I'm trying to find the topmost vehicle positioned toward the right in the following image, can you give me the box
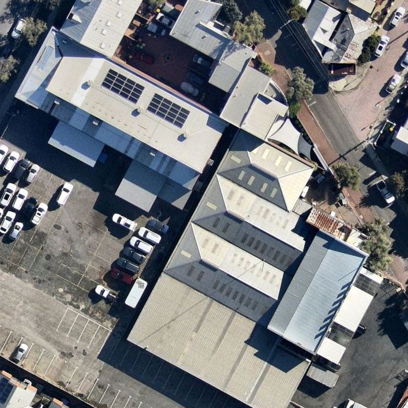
[390,5,406,27]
